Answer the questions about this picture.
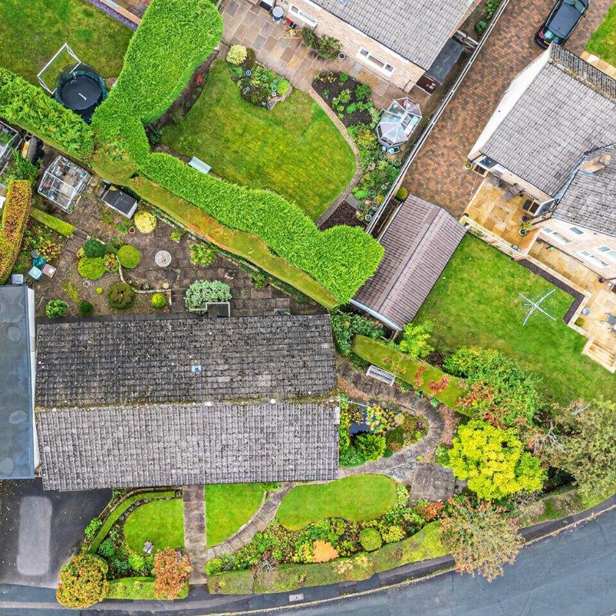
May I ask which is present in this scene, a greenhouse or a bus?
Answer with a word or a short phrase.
greenhouse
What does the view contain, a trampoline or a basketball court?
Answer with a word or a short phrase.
trampoline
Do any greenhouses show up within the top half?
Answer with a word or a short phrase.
Yes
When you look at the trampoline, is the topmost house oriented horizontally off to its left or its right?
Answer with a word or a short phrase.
to the right of it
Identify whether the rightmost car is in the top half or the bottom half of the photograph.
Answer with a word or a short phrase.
top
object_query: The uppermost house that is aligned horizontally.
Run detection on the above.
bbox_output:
[254,0,481,91]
